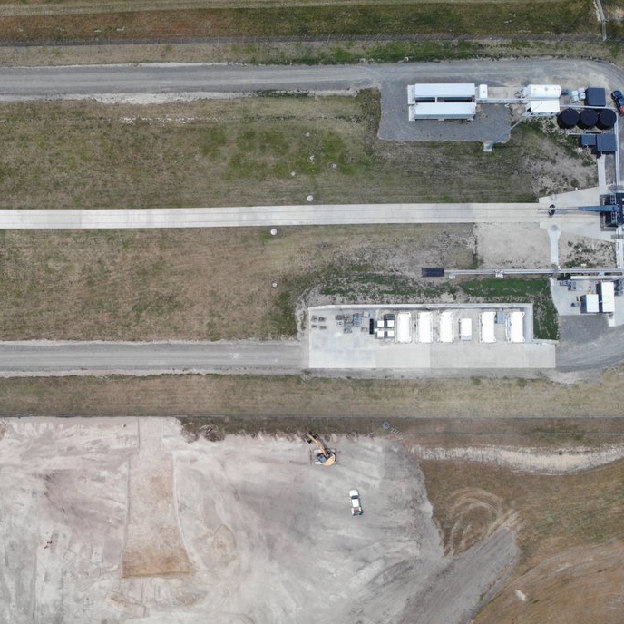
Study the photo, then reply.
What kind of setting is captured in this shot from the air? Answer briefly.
industrial area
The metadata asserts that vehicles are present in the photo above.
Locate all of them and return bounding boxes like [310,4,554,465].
[304,431,336,467]
[350,489,361,516]
[610,90,624,116]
